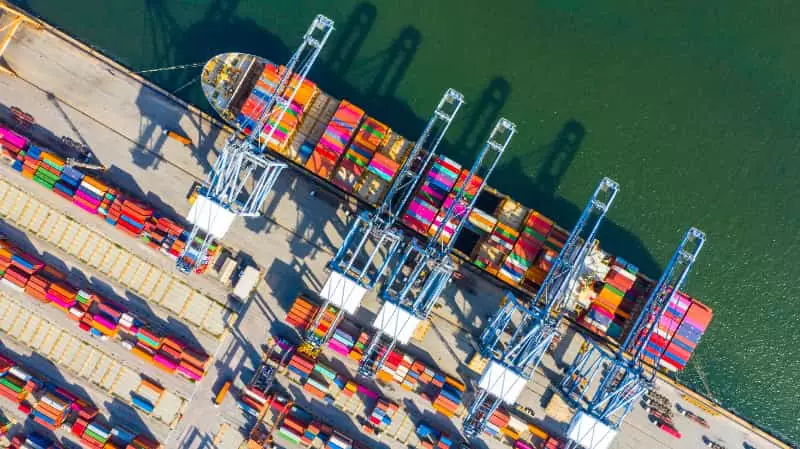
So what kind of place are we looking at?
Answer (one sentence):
The area seen from above is a port.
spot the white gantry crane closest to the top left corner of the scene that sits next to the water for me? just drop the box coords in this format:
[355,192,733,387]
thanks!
[167,12,333,278]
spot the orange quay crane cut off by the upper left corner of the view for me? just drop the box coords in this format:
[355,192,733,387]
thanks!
[0,2,42,75]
